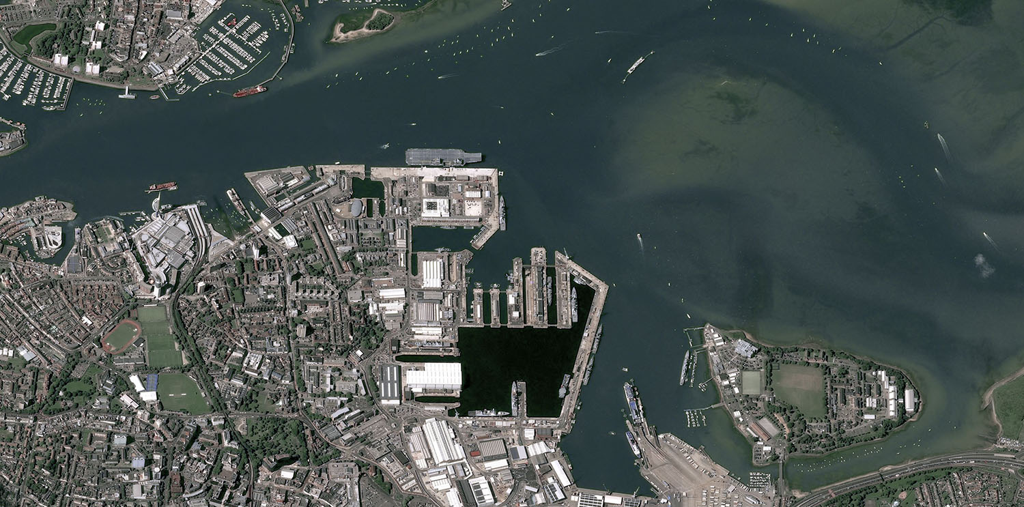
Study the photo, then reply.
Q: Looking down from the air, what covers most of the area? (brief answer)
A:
water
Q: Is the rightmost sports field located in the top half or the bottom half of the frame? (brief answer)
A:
bottom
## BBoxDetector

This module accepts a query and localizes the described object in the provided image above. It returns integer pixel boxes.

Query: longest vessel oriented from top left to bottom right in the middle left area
[227,190,245,215]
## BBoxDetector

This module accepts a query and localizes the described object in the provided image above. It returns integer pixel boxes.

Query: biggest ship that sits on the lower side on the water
[624,383,641,425]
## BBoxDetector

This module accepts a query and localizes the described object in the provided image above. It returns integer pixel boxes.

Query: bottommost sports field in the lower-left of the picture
[158,373,210,414]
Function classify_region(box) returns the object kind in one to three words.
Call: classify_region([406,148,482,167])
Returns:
ship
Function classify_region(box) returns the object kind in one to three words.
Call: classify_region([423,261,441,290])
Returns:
building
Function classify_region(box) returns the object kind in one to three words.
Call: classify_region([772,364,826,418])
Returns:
sports field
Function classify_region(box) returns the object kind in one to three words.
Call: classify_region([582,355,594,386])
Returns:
ship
